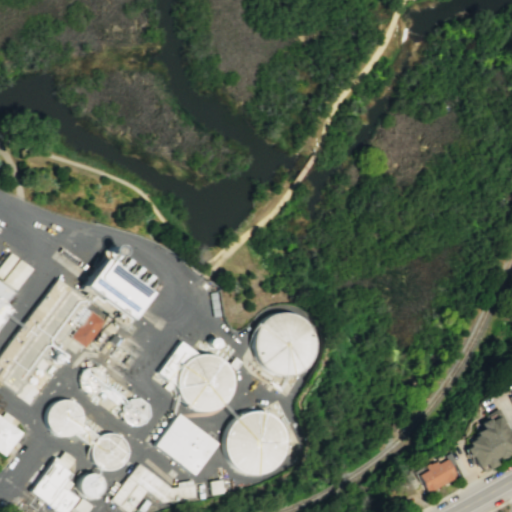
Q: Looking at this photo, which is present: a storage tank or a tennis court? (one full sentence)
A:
It is a storage tank that can be seen here.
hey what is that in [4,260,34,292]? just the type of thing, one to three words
shed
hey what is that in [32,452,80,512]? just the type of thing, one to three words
building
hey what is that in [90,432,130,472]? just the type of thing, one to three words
storage tank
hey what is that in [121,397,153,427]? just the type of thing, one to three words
storage tank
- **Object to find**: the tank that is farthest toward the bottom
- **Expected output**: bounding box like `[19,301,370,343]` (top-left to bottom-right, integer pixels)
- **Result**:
[78,472,108,500]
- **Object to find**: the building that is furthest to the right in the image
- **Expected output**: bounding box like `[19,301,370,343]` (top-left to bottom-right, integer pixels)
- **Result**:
[468,414,512,470]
